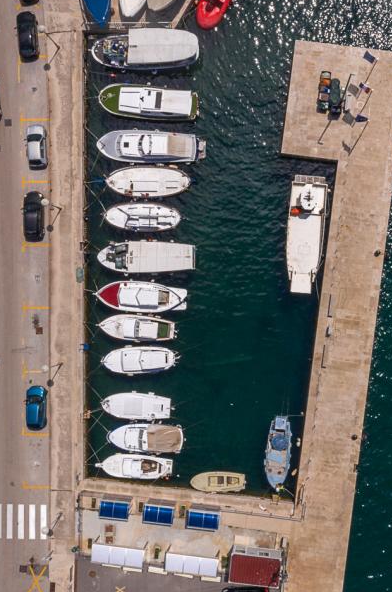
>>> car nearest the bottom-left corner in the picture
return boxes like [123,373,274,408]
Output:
[23,386,48,430]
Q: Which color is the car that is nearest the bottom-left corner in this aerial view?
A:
blue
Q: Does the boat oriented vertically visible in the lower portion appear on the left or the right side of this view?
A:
right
